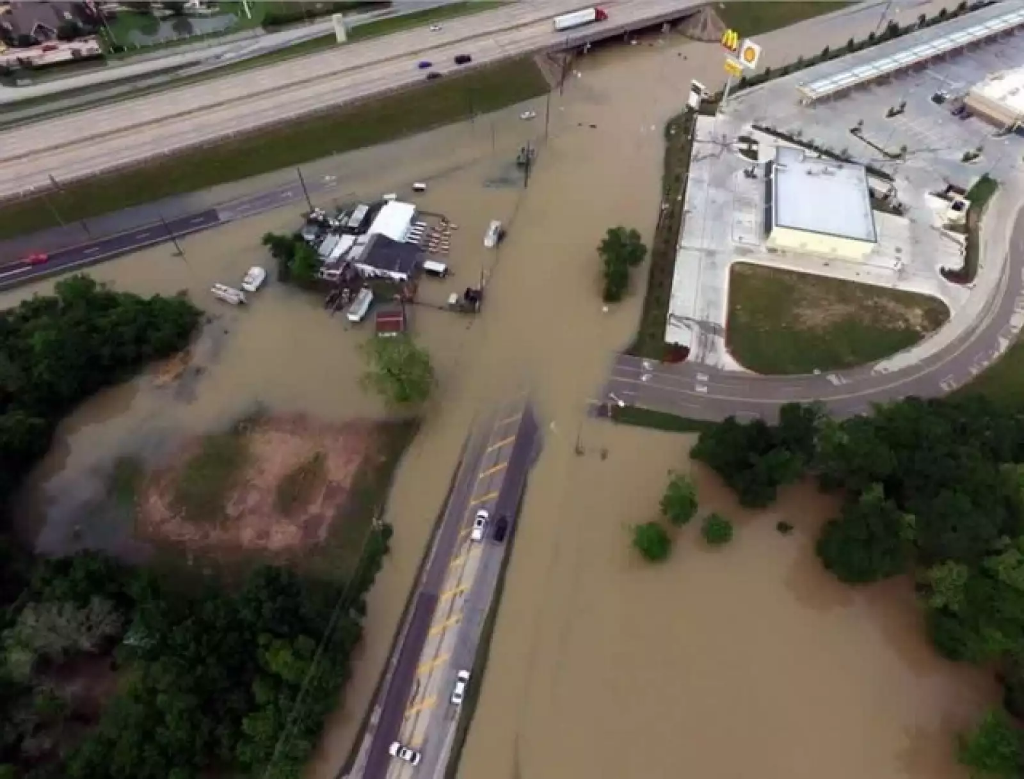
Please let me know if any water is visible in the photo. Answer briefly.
Yes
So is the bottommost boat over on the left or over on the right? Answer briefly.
left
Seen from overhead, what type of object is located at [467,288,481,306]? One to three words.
work vehicle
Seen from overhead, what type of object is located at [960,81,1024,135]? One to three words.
building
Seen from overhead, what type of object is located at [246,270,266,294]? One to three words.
vehicle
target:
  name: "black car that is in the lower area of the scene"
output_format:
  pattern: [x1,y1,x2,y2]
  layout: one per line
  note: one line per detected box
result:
[493,515,508,541]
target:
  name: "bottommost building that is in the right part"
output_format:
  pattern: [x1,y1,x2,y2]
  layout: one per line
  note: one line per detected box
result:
[763,150,872,262]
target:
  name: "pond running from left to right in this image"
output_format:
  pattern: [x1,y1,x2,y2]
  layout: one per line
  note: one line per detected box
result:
[133,16,237,45]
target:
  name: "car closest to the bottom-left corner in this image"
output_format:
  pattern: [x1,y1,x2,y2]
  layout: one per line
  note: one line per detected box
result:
[388,742,422,767]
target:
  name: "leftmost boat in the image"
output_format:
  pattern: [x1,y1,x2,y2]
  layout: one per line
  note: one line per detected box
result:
[208,284,247,304]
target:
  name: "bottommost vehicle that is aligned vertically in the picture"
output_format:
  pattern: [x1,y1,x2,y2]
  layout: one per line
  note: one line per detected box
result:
[450,672,468,705]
